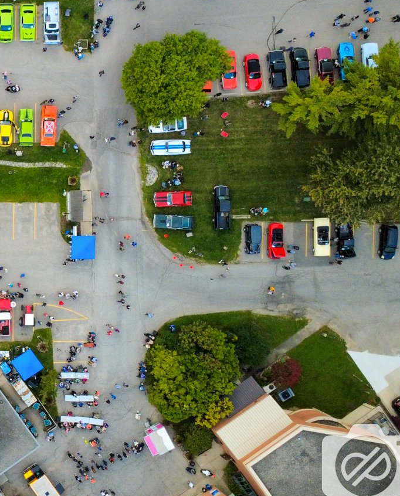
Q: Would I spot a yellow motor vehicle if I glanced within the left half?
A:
Yes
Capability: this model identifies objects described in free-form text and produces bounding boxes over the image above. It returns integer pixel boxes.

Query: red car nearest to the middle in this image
[152,190,192,208]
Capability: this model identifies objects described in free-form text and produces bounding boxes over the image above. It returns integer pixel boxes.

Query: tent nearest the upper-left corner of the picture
[69,236,95,259]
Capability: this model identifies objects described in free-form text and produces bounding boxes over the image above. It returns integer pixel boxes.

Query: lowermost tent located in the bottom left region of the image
[8,344,45,383]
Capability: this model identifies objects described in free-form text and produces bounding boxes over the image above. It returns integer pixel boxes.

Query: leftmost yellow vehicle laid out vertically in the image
[0,108,19,148]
